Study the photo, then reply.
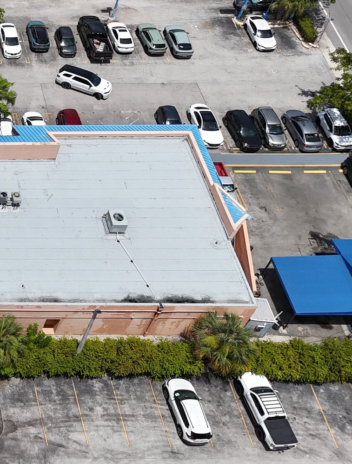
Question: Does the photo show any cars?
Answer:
Yes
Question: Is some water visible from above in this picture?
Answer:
No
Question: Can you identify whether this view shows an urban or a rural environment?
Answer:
urban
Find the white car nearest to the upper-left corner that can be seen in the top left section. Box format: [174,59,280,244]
[0,22,24,59]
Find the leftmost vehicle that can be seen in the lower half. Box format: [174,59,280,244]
[164,379,213,445]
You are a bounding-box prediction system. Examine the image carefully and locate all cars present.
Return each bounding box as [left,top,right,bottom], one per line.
[57,104,83,125]
[229,0,279,14]
[321,107,352,152]
[226,109,262,151]
[248,15,279,52]
[55,61,116,99]
[0,110,19,135]
[287,111,322,153]
[0,22,24,59]
[55,24,79,59]
[157,102,184,124]
[107,20,136,54]
[165,26,195,60]
[136,23,168,57]
[188,103,224,147]
[23,109,49,125]
[253,104,290,150]
[164,379,213,445]
[26,19,51,53]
